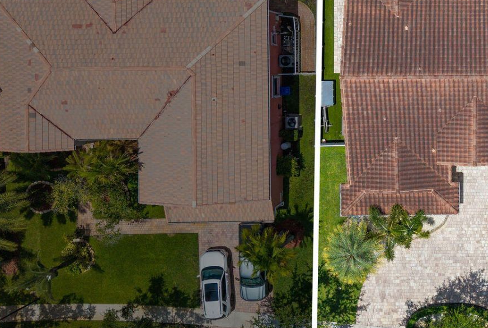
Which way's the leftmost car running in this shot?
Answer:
from top to bottom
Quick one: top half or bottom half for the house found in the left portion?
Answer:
top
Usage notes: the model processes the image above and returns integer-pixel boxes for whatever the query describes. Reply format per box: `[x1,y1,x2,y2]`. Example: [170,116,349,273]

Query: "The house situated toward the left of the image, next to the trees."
[0,0,287,225]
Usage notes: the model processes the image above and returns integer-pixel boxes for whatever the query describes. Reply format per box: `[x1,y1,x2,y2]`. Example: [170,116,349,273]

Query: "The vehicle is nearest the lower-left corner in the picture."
[199,245,238,319]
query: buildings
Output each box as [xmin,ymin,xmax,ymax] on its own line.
[339,0,488,218]
[0,0,287,225]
